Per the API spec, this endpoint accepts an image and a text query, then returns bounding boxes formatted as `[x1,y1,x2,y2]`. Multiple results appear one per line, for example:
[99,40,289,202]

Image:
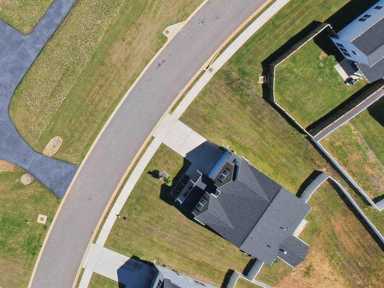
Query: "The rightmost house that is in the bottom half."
[185,151,313,269]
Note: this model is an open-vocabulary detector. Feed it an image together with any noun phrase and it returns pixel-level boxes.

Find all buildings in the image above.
[185,151,313,269]
[334,1,384,84]
[141,264,200,288]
